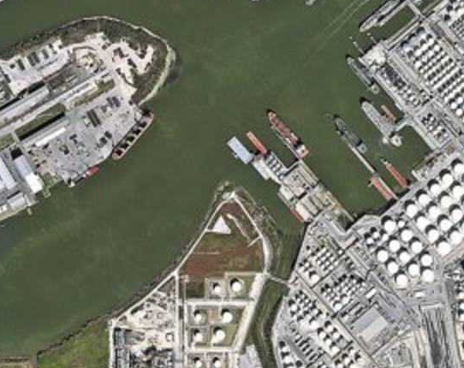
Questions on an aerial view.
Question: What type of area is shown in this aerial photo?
industrial area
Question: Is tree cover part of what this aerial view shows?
No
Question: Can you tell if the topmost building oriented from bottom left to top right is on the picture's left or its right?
left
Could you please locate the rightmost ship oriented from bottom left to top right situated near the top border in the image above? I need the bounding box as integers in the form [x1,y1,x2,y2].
[361,0,401,30]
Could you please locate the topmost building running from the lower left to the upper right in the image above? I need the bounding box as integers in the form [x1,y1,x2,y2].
[0,82,53,120]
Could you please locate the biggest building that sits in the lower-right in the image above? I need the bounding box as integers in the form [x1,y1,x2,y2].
[353,309,388,343]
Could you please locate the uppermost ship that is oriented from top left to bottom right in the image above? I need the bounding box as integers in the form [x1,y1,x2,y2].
[349,57,374,86]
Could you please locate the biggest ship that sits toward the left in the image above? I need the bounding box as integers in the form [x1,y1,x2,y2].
[112,112,154,158]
